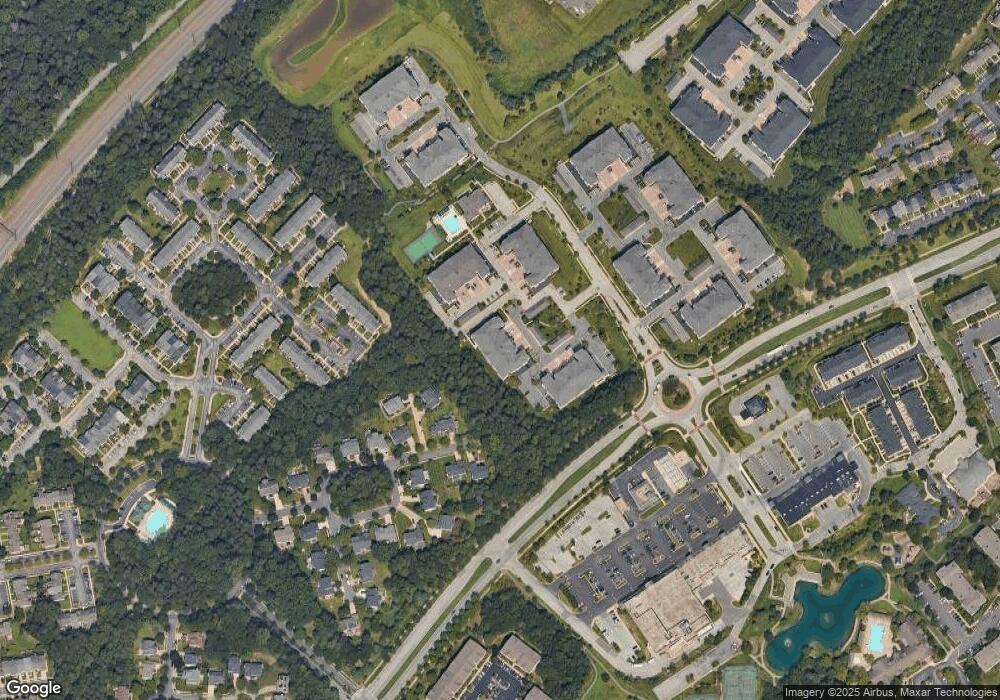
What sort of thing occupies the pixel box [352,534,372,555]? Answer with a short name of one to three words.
house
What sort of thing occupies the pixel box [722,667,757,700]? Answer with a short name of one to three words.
tennis court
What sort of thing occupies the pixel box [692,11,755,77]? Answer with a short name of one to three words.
building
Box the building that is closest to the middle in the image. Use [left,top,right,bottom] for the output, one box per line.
[469,312,530,380]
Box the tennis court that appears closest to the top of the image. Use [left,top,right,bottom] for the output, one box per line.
[403,229,442,264]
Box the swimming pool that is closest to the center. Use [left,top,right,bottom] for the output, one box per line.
[433,206,468,242]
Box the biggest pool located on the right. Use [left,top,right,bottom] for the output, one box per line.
[859,614,894,662]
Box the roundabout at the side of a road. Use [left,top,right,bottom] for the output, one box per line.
[642,359,714,425]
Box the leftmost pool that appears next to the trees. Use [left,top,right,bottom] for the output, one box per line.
[135,497,176,545]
